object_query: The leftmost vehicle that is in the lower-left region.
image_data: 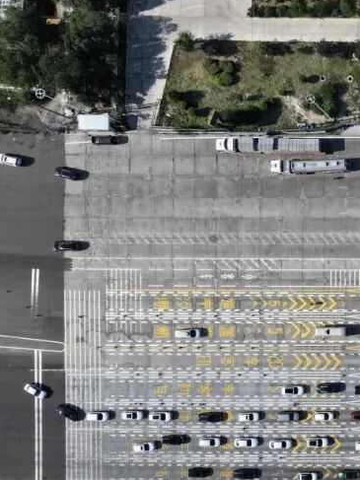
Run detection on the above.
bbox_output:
[25,382,49,399]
